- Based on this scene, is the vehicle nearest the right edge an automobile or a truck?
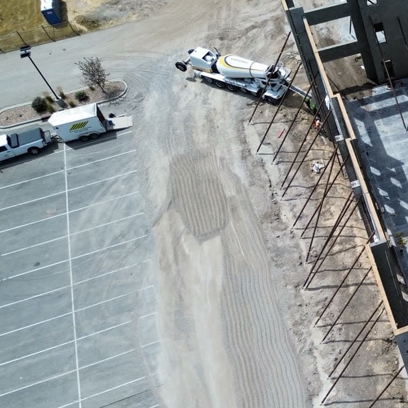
truck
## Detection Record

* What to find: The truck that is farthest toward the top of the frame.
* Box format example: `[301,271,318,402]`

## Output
[173,43,312,103]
